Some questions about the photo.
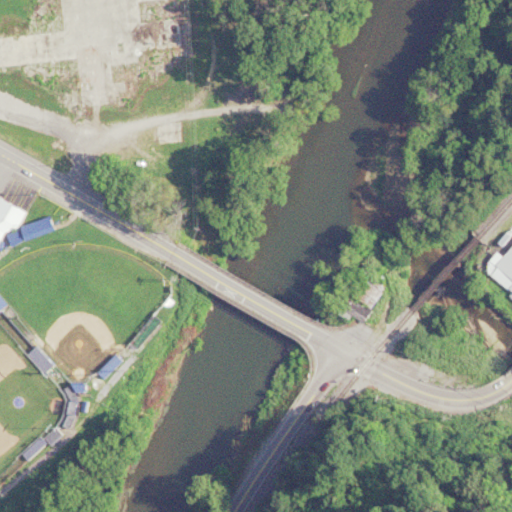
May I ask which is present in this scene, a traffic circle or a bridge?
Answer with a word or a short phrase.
bridge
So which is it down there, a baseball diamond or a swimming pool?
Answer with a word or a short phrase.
baseball diamond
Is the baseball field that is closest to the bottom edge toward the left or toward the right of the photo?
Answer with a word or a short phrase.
left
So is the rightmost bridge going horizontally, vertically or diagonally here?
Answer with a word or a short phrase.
diagonally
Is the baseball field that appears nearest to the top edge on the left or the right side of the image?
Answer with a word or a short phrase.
left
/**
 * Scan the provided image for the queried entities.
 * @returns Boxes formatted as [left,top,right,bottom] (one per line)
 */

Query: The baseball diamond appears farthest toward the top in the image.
[0,244,172,384]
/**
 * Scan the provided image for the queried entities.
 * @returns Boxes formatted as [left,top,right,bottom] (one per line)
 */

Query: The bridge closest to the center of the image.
[190,257,324,350]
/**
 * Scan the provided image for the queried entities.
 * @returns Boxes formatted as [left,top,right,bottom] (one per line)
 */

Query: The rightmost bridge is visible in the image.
[405,231,482,312]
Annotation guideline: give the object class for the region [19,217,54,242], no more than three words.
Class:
shed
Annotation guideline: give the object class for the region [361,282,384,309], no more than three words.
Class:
house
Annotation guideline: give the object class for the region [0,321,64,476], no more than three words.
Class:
baseball field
